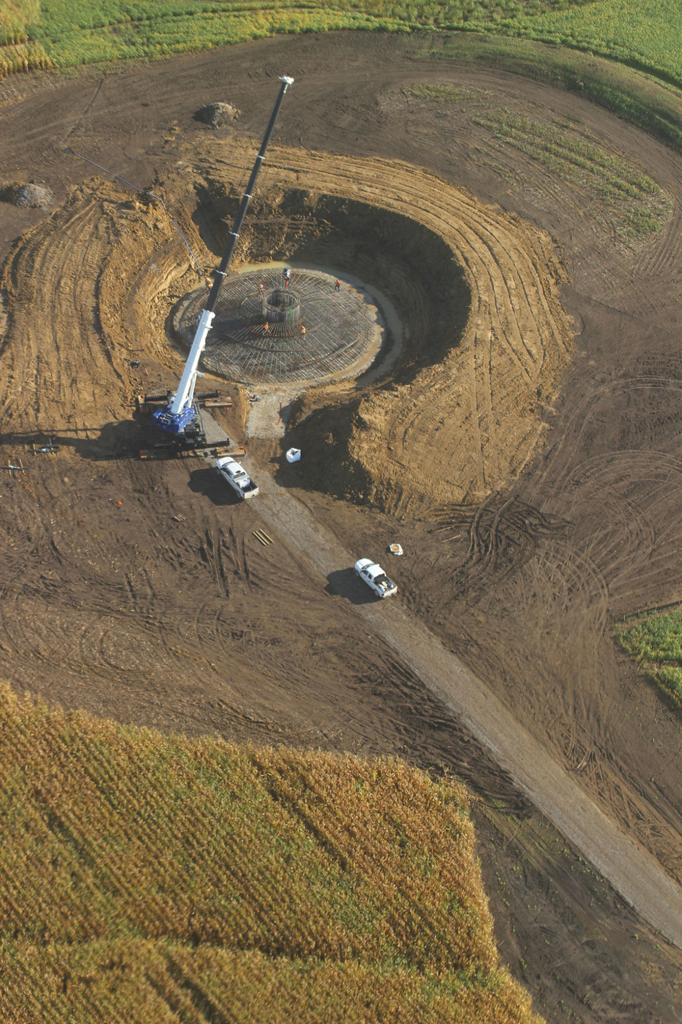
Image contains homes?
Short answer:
No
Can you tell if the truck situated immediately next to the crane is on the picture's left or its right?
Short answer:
left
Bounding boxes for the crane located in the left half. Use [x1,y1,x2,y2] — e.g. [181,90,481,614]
[138,73,294,458]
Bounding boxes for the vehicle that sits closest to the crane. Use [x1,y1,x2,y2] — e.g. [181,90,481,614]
[213,455,262,501]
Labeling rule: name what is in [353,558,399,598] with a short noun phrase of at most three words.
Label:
truck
